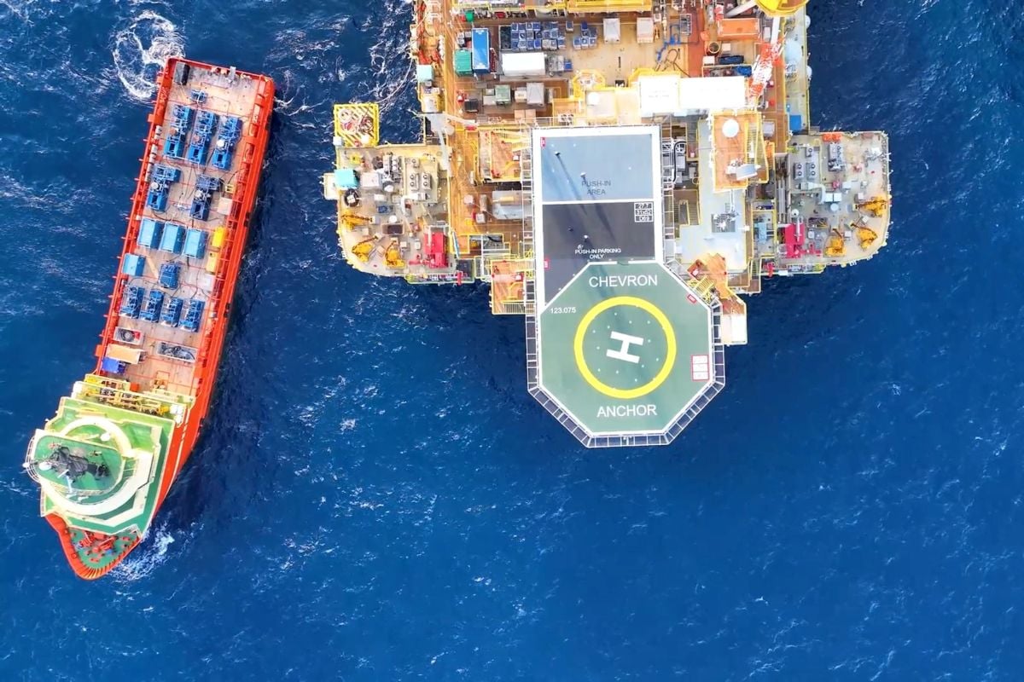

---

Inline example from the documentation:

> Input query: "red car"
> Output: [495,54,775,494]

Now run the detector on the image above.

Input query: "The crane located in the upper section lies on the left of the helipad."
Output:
[418,110,479,179]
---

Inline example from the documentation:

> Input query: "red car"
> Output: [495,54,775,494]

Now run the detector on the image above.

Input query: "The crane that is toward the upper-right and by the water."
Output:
[742,0,810,118]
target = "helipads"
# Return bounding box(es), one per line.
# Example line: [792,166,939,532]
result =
[522,123,726,448]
